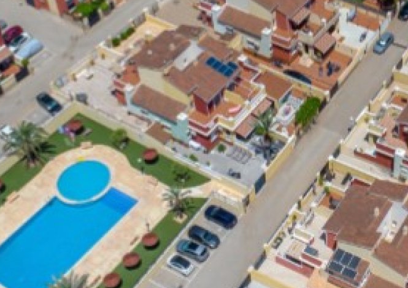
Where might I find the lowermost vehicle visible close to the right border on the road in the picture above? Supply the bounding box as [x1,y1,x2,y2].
[374,33,393,53]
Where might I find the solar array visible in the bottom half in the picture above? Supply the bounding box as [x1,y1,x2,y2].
[331,250,361,282]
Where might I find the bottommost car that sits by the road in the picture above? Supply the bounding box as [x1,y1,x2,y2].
[164,252,197,278]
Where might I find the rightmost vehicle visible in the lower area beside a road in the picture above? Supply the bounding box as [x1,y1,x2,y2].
[205,207,237,229]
